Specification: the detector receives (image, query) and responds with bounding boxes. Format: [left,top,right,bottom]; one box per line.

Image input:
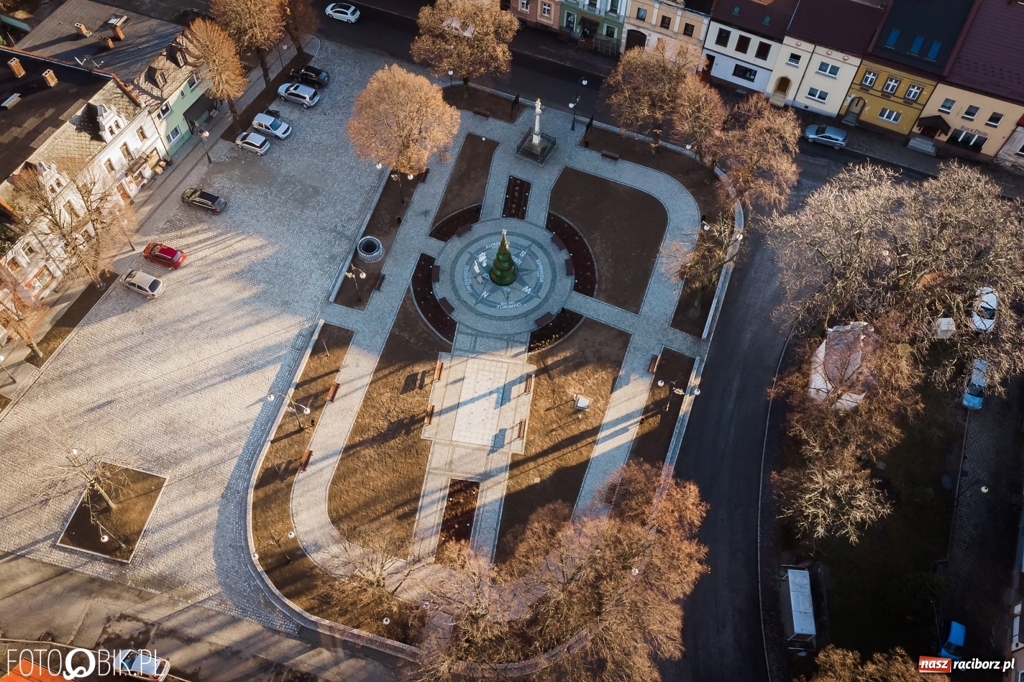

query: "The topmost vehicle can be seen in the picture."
[322,1,363,26]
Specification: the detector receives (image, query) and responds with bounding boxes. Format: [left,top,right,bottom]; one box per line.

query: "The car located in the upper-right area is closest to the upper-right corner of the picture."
[803,123,851,150]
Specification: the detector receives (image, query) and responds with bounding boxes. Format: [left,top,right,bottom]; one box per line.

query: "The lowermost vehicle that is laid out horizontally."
[110,647,175,682]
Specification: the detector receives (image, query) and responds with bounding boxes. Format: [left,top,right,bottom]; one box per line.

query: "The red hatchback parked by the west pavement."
[140,241,191,272]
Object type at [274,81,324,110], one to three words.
car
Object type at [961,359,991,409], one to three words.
car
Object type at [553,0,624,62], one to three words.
house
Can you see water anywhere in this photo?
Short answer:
No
